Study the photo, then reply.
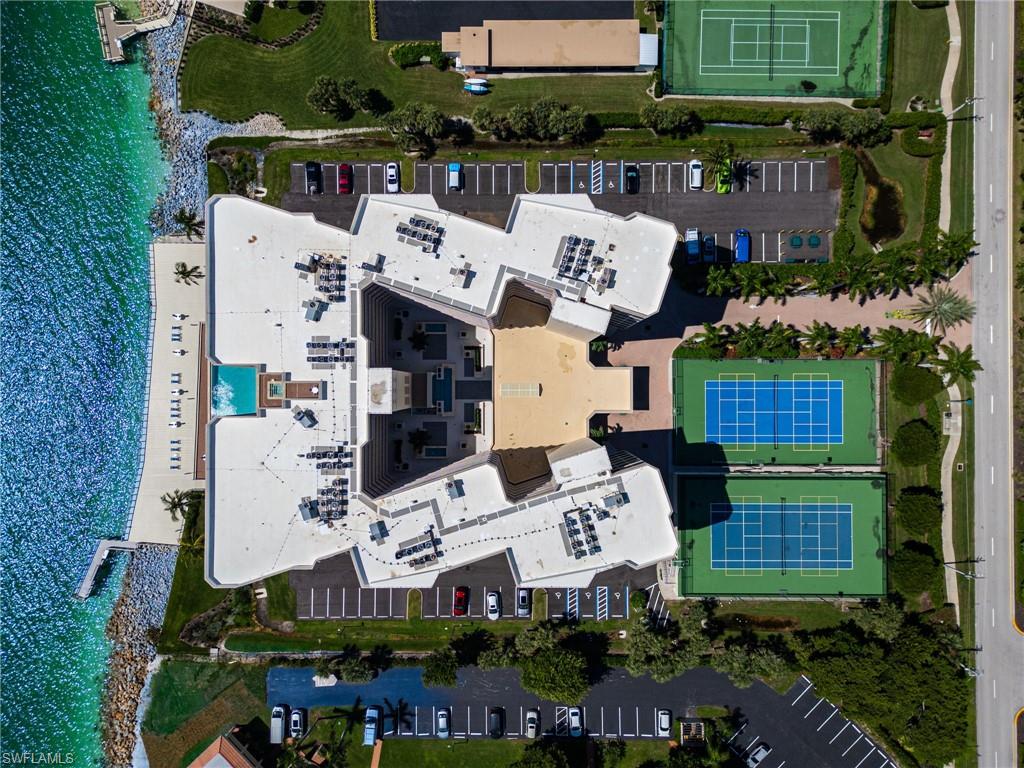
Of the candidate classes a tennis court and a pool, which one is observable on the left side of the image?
pool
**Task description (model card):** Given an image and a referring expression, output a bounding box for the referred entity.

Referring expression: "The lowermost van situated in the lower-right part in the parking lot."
[745,739,774,768]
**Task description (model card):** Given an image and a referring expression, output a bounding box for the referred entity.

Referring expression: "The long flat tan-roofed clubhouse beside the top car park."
[441,20,640,77]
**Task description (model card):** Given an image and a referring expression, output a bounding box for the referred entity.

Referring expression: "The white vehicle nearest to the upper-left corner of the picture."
[386,163,399,193]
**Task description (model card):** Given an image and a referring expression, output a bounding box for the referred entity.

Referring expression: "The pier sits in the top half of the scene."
[94,0,179,64]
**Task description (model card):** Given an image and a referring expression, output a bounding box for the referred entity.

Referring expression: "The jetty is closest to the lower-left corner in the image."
[74,540,138,599]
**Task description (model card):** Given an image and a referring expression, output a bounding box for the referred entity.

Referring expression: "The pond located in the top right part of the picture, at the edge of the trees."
[859,148,904,242]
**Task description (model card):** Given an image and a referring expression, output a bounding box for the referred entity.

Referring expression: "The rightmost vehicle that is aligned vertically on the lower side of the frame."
[658,707,672,737]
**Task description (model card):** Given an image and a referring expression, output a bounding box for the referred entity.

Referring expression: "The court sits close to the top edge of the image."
[669,0,881,88]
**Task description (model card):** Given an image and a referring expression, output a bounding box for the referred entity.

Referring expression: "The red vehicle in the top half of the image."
[338,164,352,194]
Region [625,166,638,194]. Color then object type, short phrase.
black vehicle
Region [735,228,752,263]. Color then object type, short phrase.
blue vehicle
